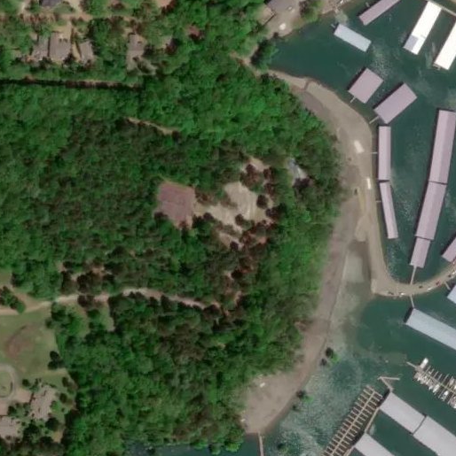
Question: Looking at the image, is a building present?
Yes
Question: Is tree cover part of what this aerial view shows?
Yes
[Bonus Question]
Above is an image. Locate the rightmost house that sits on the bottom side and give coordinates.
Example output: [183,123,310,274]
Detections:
[30,382,59,419]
